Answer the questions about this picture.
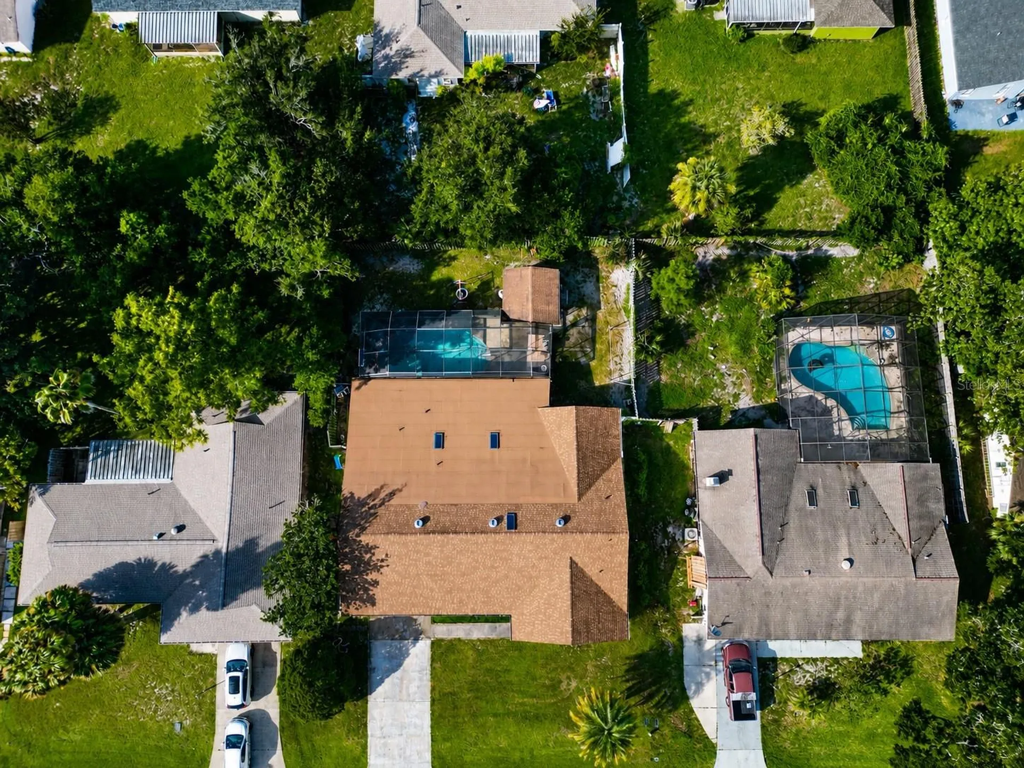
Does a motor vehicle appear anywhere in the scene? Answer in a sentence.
Yes, this view includes a motor vehicle.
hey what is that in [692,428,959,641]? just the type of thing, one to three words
house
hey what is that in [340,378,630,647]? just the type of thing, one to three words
house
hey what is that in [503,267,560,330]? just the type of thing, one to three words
shed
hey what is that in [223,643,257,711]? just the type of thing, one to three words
car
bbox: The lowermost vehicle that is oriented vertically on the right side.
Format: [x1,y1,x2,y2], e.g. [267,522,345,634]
[721,642,757,725]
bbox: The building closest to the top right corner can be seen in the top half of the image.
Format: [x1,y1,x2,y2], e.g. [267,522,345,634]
[936,0,1024,107]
